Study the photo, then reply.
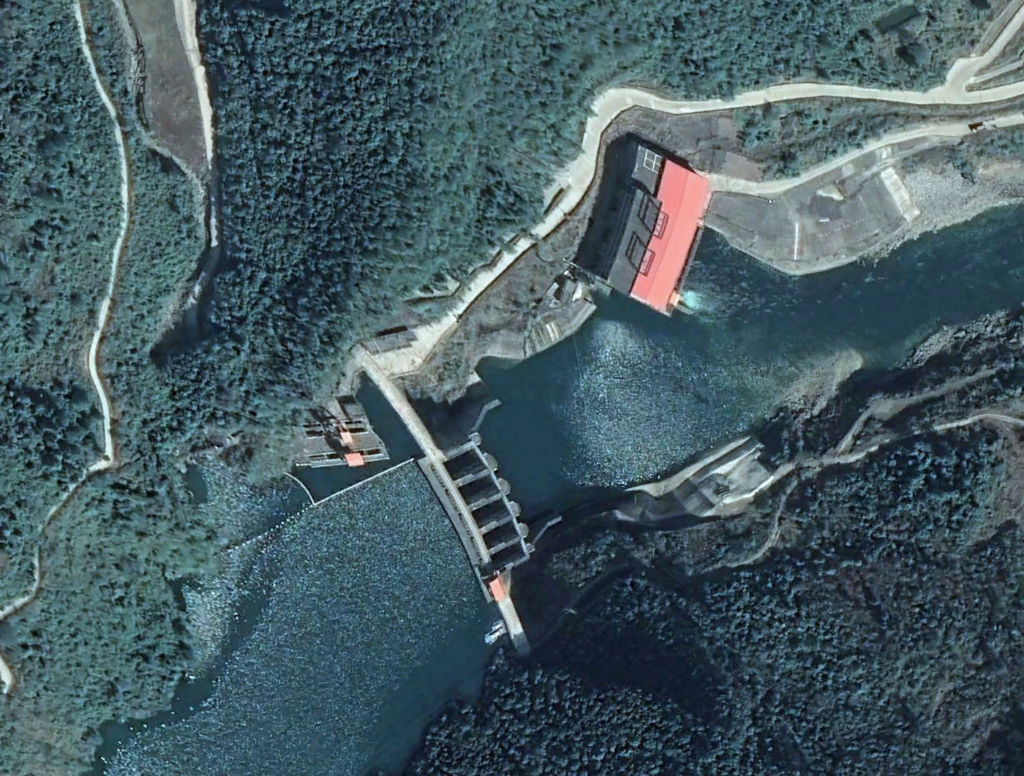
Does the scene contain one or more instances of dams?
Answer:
Yes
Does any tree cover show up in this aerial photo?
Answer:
Yes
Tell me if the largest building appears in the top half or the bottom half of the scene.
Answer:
top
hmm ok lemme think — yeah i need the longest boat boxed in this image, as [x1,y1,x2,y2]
[484,627,504,641]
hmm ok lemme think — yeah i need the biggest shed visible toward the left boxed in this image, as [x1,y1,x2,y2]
[362,331,418,355]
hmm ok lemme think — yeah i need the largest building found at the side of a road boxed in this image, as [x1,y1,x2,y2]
[594,145,710,317]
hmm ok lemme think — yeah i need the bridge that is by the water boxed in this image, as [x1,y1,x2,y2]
[428,457,490,562]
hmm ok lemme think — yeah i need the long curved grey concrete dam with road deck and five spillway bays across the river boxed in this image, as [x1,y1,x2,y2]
[361,352,564,657]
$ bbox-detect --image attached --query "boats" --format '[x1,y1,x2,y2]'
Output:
[491,618,504,628]
[484,627,504,641]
